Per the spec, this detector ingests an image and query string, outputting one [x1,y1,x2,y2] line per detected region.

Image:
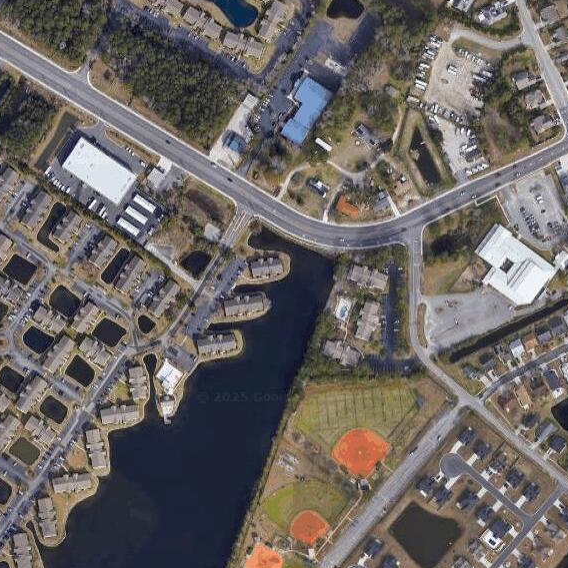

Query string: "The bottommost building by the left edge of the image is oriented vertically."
[14,533,32,568]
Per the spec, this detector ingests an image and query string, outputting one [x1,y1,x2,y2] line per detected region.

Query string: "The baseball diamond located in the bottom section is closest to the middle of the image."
[294,382,420,481]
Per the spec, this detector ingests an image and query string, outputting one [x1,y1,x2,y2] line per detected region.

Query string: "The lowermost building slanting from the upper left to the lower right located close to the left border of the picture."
[21,412,59,447]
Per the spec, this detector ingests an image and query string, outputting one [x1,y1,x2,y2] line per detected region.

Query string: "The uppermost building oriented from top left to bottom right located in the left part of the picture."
[183,5,223,36]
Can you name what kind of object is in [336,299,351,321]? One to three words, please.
swimming pool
